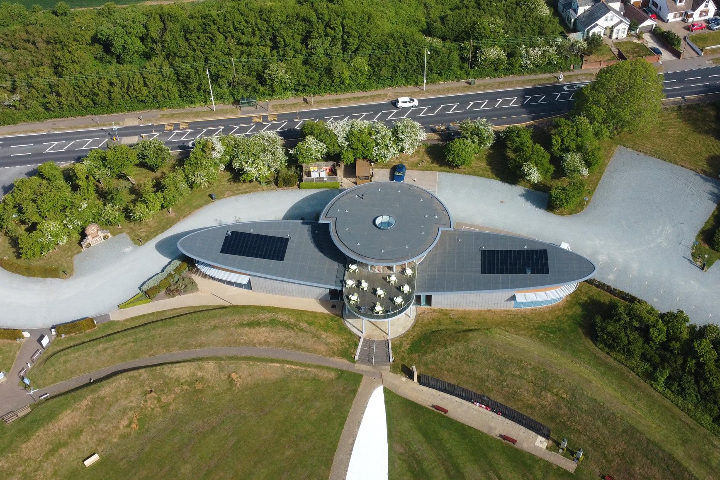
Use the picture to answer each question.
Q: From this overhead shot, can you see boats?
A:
No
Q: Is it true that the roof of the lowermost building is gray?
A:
Yes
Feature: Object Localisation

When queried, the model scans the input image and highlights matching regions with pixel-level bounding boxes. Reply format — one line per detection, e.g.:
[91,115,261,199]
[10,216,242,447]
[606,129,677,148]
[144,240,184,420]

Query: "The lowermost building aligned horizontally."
[177,181,596,336]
